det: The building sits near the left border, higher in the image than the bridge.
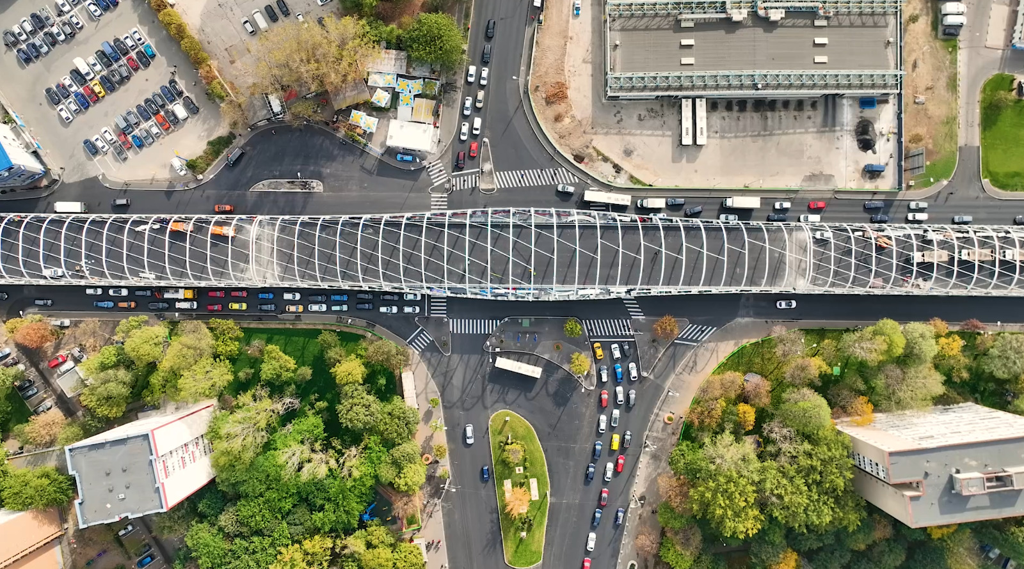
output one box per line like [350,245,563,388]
[0,98,42,185]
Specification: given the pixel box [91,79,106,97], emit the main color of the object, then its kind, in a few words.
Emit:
yellow car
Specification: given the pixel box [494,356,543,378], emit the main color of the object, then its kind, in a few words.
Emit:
white bus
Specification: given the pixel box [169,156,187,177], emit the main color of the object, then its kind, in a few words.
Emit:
white vehicle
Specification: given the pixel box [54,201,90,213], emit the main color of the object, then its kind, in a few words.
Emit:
white vehicle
